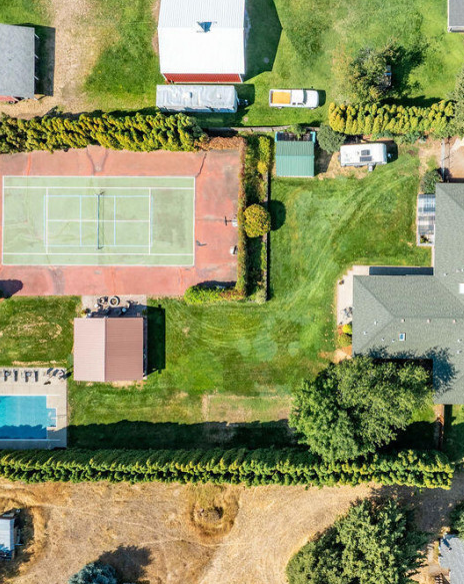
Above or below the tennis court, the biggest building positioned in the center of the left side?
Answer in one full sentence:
Looking at the scene, the biggest building positioned in the center of the left side is located below the tennis court.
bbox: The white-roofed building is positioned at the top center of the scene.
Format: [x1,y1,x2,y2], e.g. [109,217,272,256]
[156,0,245,81]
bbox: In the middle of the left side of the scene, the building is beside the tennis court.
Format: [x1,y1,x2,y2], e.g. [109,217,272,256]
[74,318,147,382]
